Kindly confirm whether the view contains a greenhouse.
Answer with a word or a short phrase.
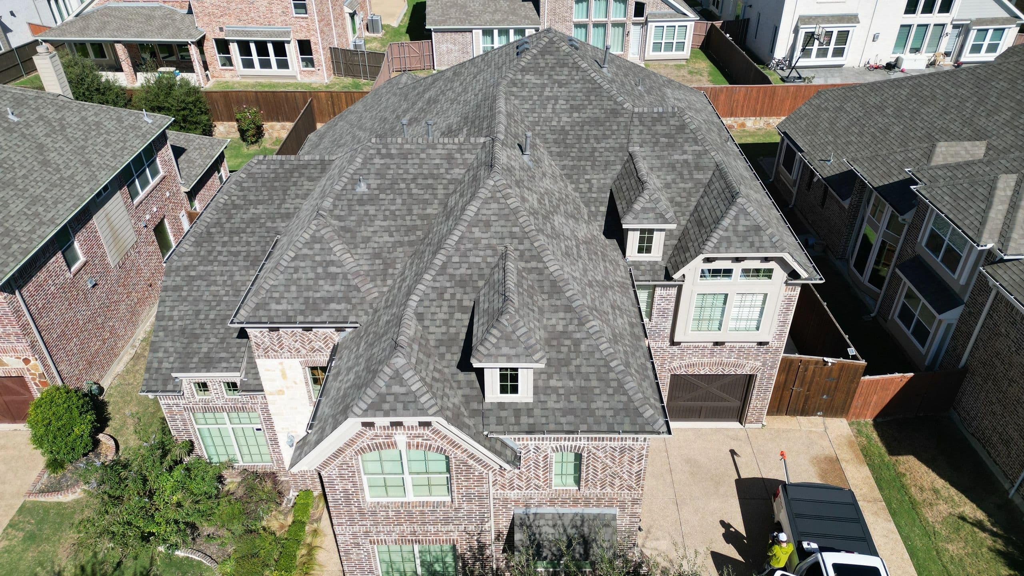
No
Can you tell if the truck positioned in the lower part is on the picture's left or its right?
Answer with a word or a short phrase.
right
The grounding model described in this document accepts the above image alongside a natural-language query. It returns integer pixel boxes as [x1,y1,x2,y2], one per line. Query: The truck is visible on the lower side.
[772,479,902,576]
